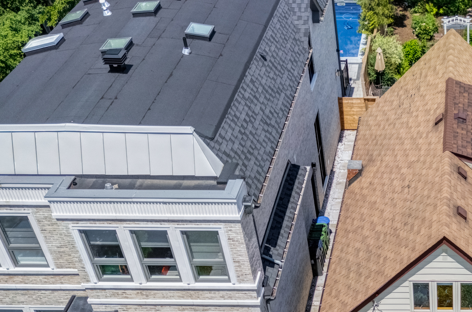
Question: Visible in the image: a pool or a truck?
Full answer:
I can see a pool in this picture.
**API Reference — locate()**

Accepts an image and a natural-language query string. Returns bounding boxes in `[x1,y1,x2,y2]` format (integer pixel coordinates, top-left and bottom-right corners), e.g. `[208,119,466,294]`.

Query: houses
[316,31,472,312]
[0,0,349,312]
